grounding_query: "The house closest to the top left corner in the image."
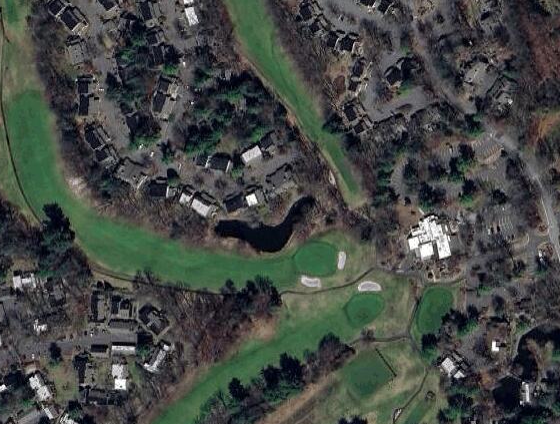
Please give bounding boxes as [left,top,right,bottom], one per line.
[46,0,86,31]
